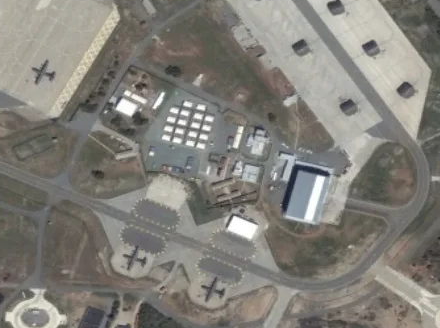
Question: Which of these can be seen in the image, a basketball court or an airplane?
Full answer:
There is an airplane in the scene.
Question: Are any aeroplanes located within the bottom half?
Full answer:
Yes, an aeroplane appears within the bottom half.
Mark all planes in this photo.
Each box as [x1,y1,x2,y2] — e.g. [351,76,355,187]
[124,244,145,269]
[33,59,53,84]
[202,276,223,301]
